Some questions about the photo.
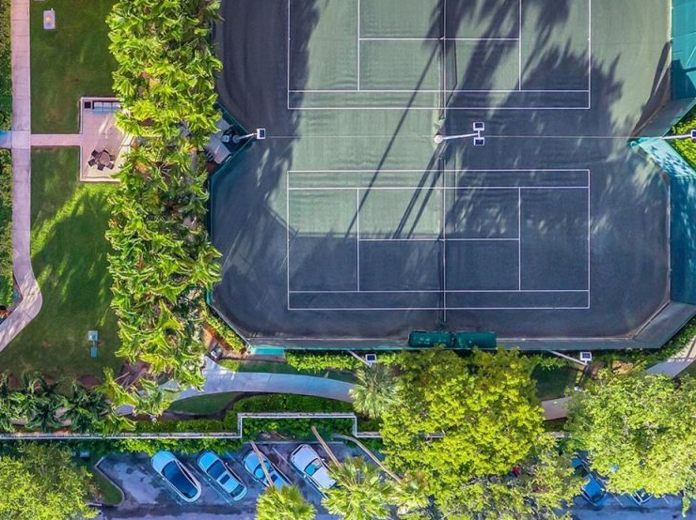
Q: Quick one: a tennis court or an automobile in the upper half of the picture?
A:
tennis court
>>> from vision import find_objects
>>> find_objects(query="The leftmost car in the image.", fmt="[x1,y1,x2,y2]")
[148,453,205,506]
